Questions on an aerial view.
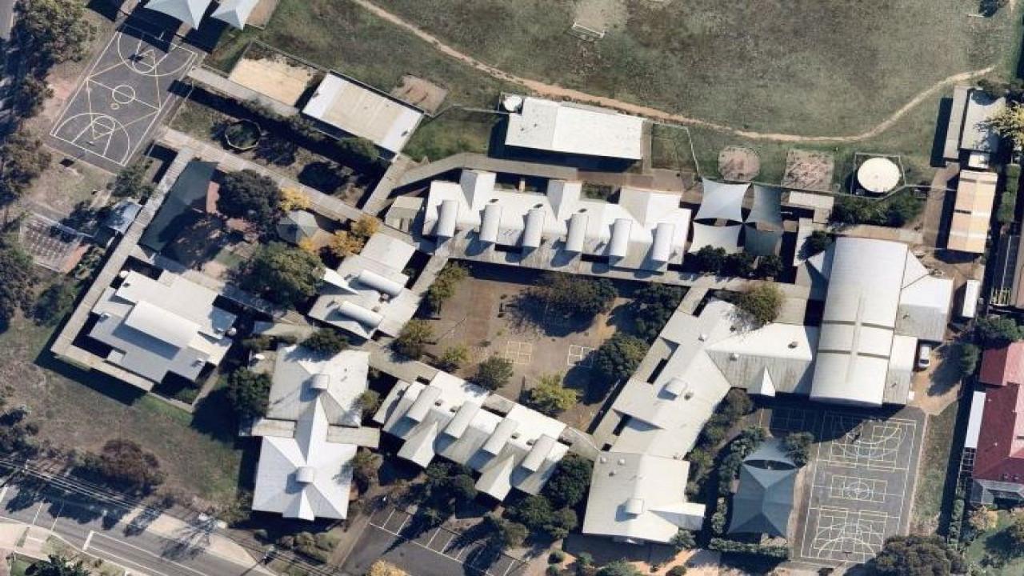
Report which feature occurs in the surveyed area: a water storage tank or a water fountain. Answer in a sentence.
The one in the frame is a water storage tank.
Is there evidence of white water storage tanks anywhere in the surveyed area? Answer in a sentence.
Yes, the photo shows a white water storage tank.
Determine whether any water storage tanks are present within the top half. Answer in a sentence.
Yes, within the top half there is a water storage tank.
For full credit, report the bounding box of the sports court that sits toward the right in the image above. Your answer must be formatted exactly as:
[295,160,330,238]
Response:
[748,396,927,565]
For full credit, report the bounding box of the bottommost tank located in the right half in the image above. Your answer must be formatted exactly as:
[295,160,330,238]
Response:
[856,153,899,196]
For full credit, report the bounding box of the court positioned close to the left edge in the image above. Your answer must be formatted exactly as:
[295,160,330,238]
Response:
[47,11,206,174]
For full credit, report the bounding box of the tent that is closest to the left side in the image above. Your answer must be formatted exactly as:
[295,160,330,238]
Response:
[142,0,209,32]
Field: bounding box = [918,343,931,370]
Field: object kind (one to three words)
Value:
vehicle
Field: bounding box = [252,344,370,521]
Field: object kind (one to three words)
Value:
building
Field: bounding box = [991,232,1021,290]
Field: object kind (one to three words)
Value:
house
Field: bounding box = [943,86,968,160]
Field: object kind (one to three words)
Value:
shed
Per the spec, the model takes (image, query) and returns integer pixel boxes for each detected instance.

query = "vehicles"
[199,511,227,532]
[918,343,931,370]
